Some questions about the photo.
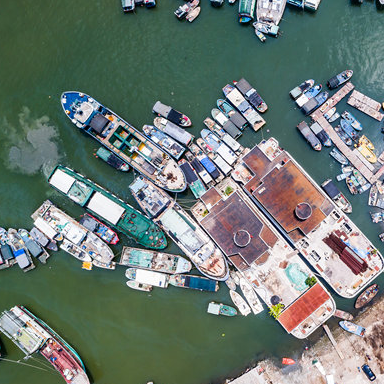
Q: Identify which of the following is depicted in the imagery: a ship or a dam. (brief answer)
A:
ship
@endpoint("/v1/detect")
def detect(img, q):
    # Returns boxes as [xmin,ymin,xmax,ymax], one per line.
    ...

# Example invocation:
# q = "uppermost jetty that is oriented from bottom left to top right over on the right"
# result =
[305,82,355,121]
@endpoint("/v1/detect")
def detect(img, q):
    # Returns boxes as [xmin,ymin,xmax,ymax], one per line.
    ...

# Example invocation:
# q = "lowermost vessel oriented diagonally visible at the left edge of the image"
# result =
[0,306,93,384]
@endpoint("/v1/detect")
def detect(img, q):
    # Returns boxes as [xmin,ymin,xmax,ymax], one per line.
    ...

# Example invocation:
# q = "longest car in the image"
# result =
[360,363,376,380]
